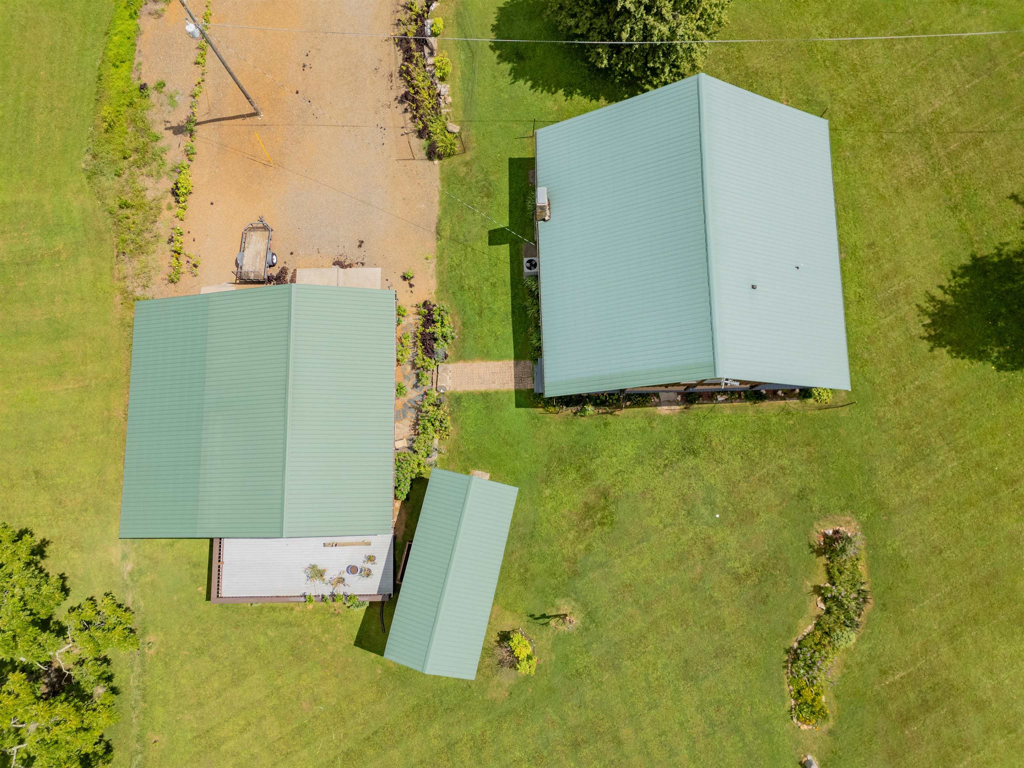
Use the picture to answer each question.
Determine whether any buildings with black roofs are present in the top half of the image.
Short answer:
No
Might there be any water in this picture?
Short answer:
No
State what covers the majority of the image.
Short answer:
grass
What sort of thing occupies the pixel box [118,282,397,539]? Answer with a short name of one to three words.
building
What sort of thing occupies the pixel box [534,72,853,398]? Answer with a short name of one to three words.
house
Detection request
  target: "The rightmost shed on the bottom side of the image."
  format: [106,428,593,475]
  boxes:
[383,467,519,681]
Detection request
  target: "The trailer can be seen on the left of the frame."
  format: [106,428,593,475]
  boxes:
[229,213,274,281]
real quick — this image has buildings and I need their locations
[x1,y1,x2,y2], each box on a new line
[118,282,397,539]
[534,72,853,398]
[383,467,519,681]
